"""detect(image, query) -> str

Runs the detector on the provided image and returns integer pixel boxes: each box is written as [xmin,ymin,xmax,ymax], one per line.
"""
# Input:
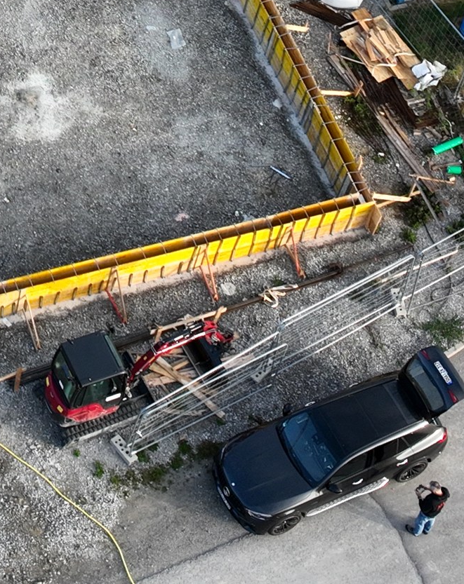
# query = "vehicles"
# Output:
[32,316,233,452]
[211,339,464,531]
